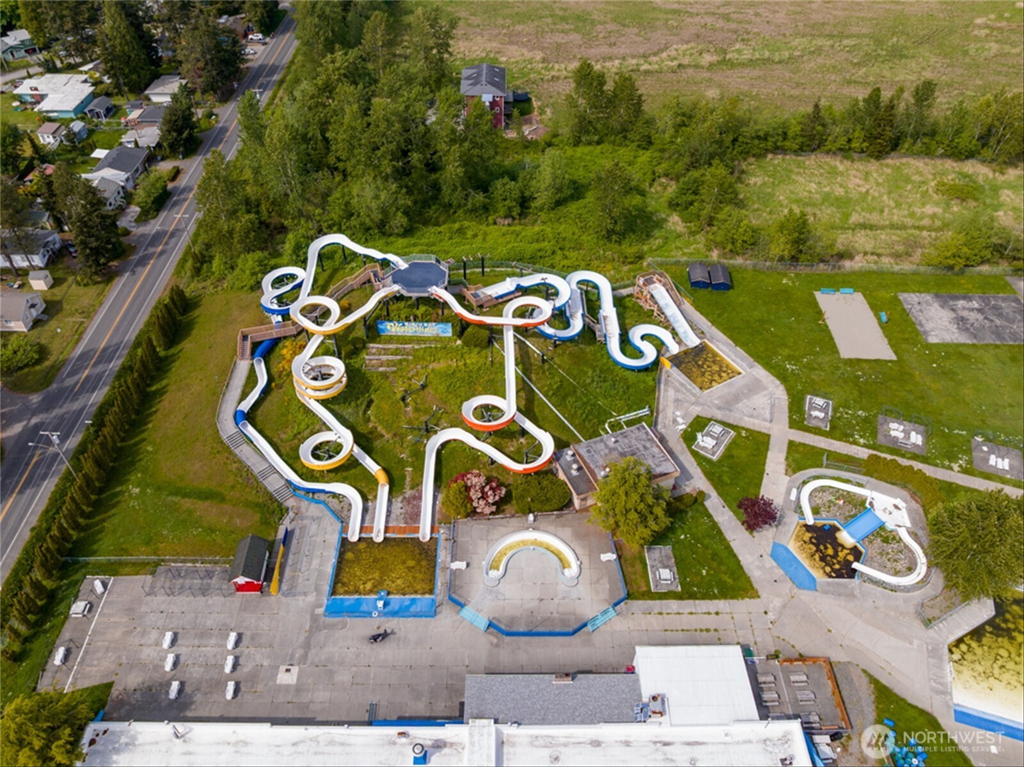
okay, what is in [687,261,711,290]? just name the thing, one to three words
shed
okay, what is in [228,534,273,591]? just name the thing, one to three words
shed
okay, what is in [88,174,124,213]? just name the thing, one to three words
building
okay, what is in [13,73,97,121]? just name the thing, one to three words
house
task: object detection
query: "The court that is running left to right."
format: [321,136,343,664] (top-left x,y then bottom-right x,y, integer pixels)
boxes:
[898,293,1024,344]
